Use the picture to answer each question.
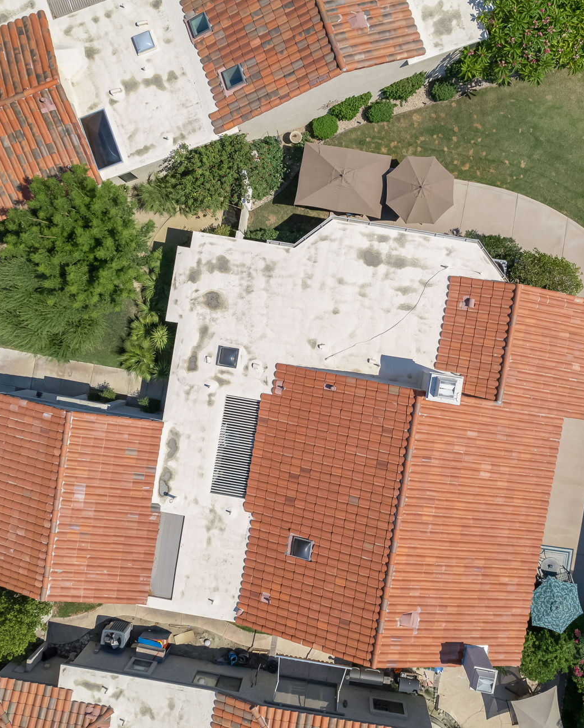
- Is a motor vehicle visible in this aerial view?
No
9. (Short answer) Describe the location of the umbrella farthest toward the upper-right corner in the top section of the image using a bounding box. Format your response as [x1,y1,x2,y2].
[386,156,453,223]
